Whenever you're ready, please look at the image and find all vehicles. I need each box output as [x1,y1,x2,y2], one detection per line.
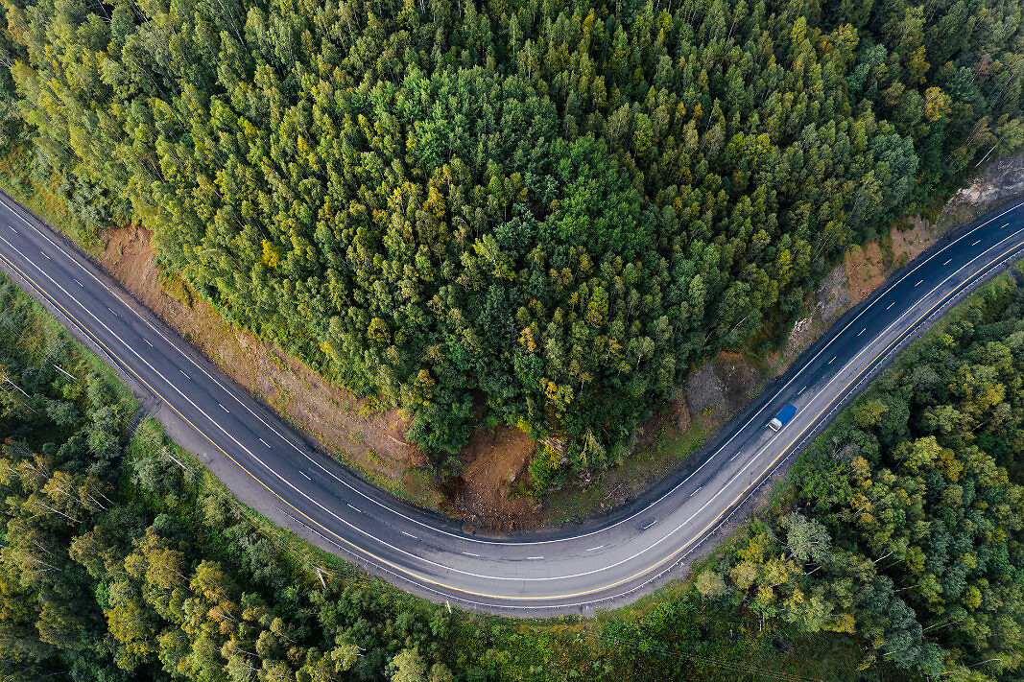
[770,401,797,428]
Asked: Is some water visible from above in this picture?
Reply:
No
